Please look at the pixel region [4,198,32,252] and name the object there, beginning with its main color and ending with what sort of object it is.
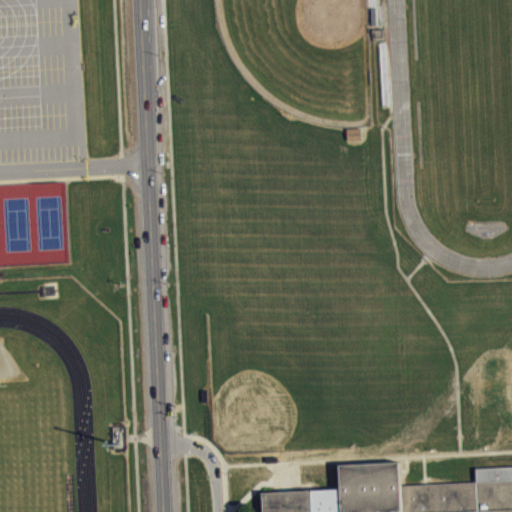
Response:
blue tennis court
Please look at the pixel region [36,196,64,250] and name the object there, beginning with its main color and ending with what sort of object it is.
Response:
blue tennis court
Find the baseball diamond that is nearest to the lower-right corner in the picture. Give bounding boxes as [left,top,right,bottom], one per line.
[462,348,512,460]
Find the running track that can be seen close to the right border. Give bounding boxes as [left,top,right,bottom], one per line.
[388,0,512,278]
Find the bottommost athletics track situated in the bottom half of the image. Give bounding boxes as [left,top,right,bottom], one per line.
[0,308,97,512]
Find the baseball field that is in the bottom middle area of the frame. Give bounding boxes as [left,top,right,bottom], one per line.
[212,368,298,454]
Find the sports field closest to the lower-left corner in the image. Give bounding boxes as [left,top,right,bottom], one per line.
[0,330,78,512]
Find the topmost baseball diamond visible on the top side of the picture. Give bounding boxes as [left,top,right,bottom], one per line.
[214,0,369,128]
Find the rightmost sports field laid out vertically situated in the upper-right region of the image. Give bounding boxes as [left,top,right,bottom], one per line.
[405,0,512,258]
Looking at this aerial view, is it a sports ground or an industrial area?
sports ground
